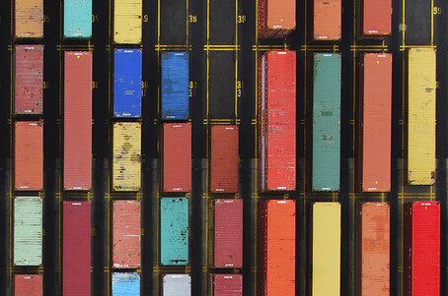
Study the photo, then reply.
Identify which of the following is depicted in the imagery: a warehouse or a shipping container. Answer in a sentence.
The one in the frame is a shipping container.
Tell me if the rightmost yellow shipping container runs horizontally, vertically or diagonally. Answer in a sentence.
I'd say the rightmost yellow shipping container is aligned vertically in the picture.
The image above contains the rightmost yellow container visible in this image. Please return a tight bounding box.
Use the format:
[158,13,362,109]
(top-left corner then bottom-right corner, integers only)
[404,47,435,188]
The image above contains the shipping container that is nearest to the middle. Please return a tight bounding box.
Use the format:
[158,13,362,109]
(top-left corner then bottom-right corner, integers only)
[209,124,239,195]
